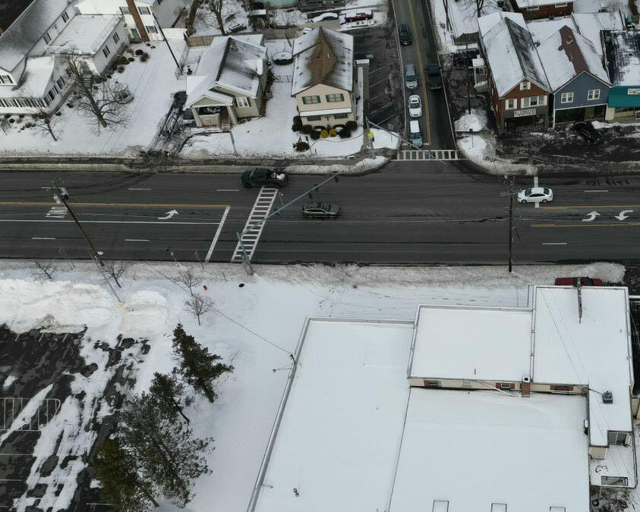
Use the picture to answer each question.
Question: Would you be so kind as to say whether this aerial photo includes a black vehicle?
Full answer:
Yes, looking at the shot, I can spot a black vehicle.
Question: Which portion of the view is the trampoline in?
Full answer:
The trampoline is located in the top region of the scene.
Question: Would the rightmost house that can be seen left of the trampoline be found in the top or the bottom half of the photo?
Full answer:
Seen from above, the rightmost house that can be seen left of the trampoline lies in the top half of the view.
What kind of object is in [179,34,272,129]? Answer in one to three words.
house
